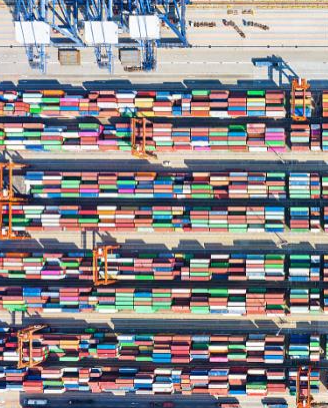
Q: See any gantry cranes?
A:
Yes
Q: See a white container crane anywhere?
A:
Yes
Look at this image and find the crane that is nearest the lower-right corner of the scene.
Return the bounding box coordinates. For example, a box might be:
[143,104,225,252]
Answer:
[295,360,315,408]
